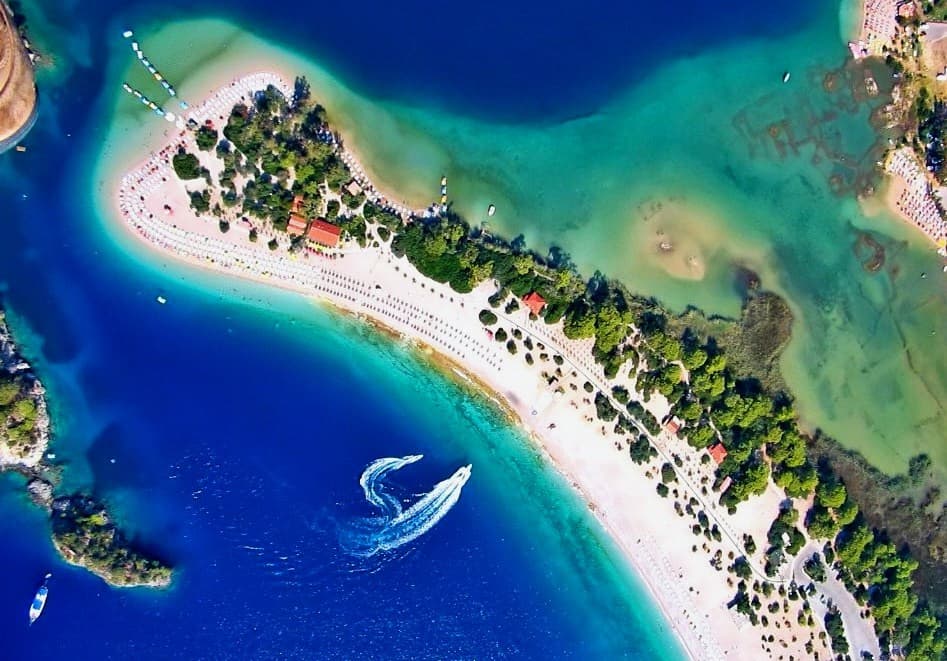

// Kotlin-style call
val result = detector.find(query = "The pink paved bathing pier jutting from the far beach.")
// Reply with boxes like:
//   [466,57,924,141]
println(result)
[848,42,874,60]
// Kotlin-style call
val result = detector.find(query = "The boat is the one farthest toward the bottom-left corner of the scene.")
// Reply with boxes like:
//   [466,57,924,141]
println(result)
[26,584,49,621]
